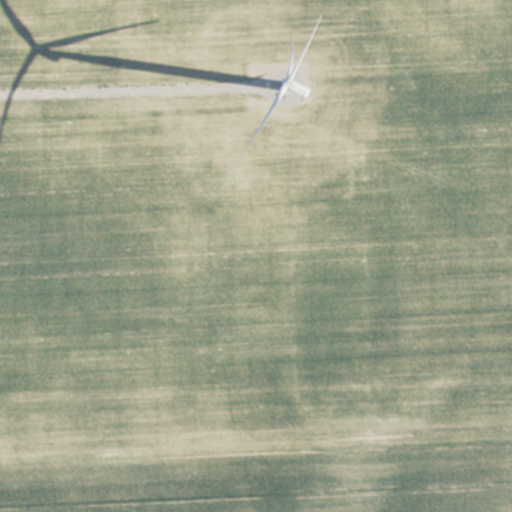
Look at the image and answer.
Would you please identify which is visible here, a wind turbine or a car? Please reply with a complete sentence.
This aerial view contains a wind turbine.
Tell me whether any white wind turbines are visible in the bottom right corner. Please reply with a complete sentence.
No, in the bottom right corner there is no white wind turbine.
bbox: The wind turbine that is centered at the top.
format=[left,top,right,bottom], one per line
[230,17,320,170]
